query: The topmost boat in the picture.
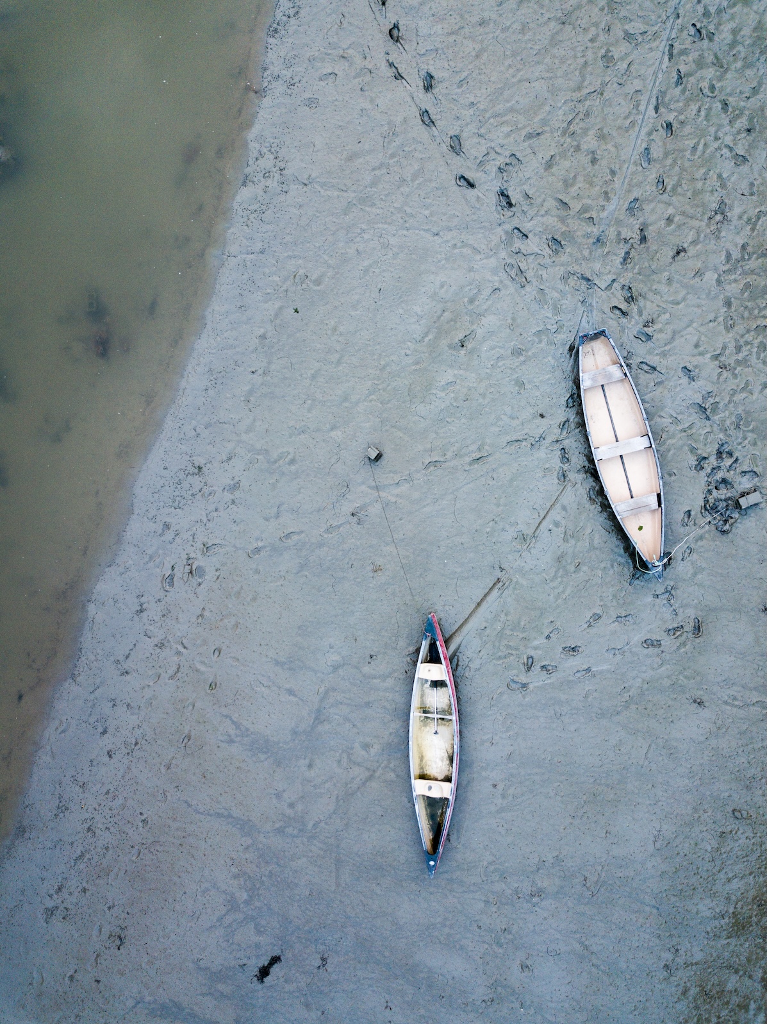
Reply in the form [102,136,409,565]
[579,326,667,583]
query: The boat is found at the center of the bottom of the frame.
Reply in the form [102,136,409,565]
[408,615,456,882]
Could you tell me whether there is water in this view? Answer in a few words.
Yes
